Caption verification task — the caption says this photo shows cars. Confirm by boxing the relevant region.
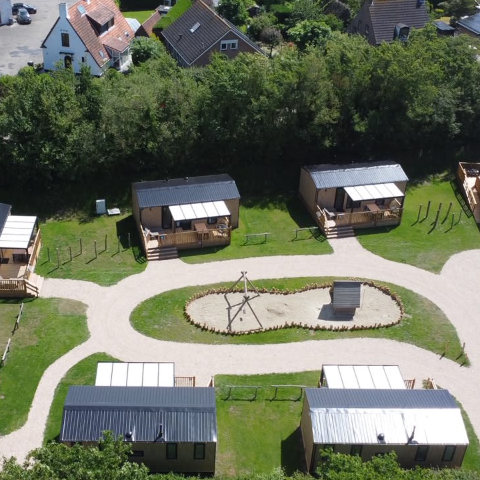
[10,0,45,14]
[18,5,34,23]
